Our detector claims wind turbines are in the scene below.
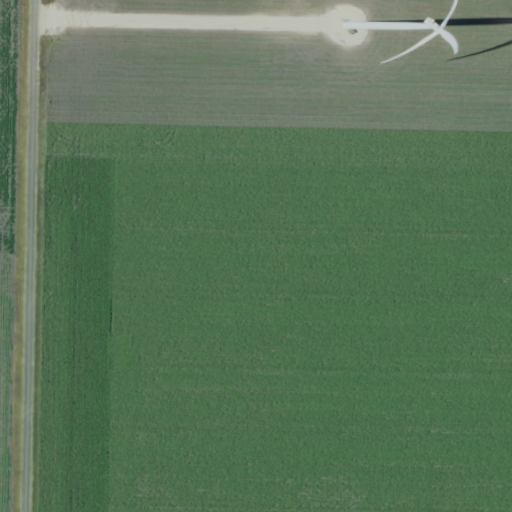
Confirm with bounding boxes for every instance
[340,0,457,62]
